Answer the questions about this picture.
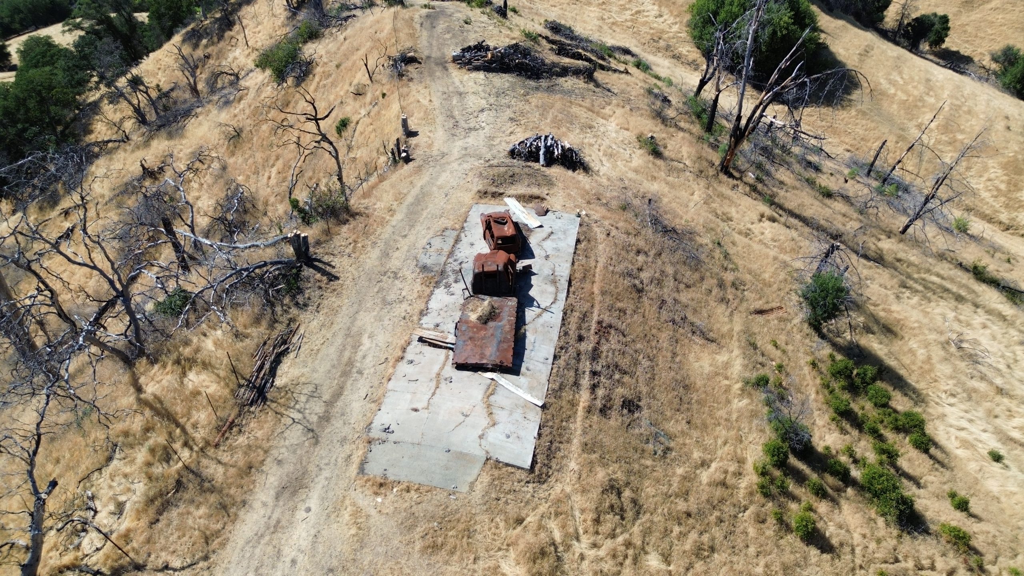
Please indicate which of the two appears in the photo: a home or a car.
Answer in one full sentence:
Of the two, only a car appears.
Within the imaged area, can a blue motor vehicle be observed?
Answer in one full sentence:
No, there's no blue motor vehicle here.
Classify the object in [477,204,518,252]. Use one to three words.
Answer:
car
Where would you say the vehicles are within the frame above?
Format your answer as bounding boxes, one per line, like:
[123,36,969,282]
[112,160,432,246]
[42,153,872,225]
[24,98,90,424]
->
[450,251,518,371]
[477,204,518,252]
